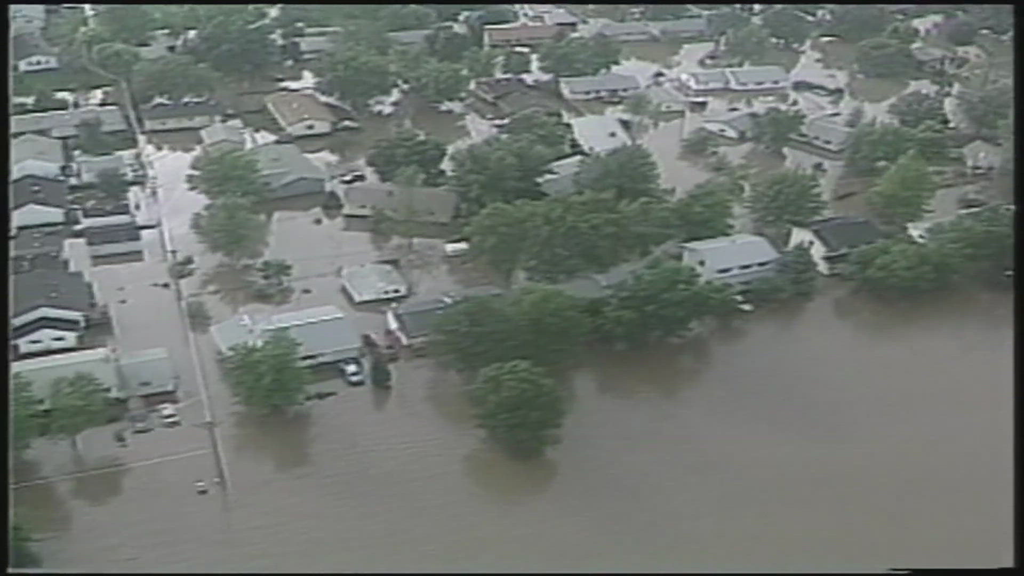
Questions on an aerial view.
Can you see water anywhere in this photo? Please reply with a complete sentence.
Yes, water can be seen from above here.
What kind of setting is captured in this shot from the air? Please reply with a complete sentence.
It's a residential area.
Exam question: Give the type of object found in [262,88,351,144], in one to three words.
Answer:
house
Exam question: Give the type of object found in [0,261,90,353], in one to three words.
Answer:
house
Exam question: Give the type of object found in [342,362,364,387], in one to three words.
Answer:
car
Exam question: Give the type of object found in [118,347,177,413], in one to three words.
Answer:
building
